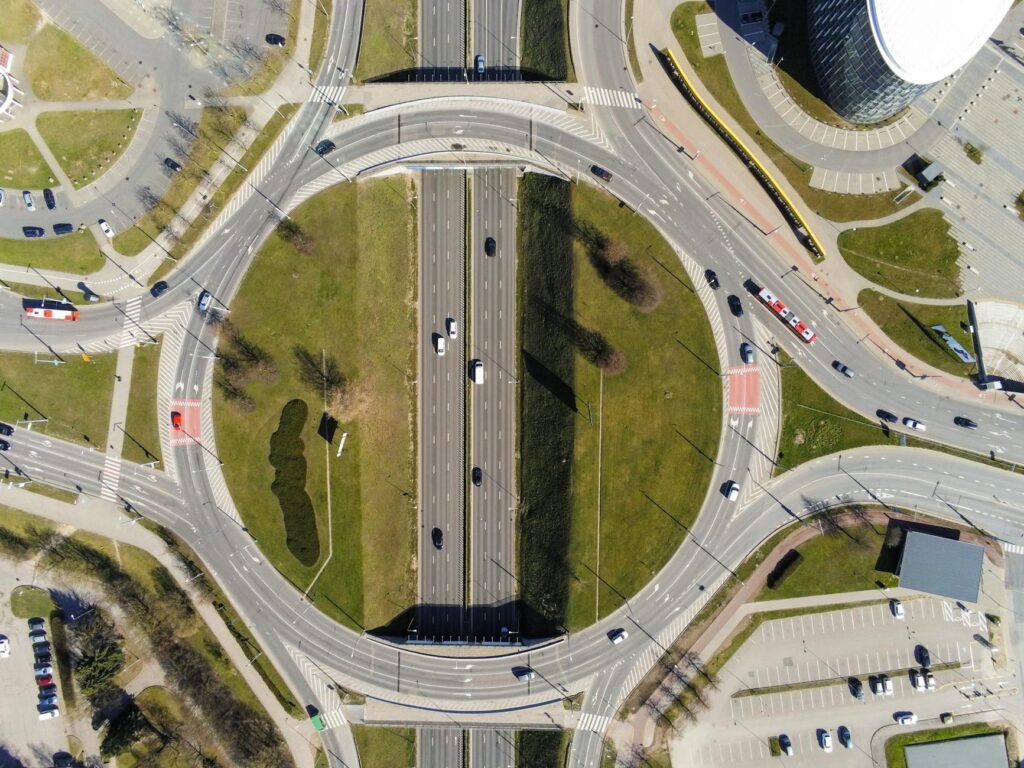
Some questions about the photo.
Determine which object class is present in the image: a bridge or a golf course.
bridge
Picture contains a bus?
Yes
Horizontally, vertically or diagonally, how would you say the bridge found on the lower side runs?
horizontally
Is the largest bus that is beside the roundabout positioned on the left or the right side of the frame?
right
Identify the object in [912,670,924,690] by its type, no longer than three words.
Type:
vehicle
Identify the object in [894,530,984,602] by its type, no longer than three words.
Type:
building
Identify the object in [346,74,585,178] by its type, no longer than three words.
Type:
bridge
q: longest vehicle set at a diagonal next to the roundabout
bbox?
[754,285,816,345]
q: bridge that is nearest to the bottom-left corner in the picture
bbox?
[346,632,578,736]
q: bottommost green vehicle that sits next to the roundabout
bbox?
[309,706,327,733]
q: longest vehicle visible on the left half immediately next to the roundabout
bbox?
[26,307,84,320]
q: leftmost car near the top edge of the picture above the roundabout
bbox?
[267,34,286,46]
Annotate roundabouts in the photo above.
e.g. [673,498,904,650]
[63,100,780,712]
